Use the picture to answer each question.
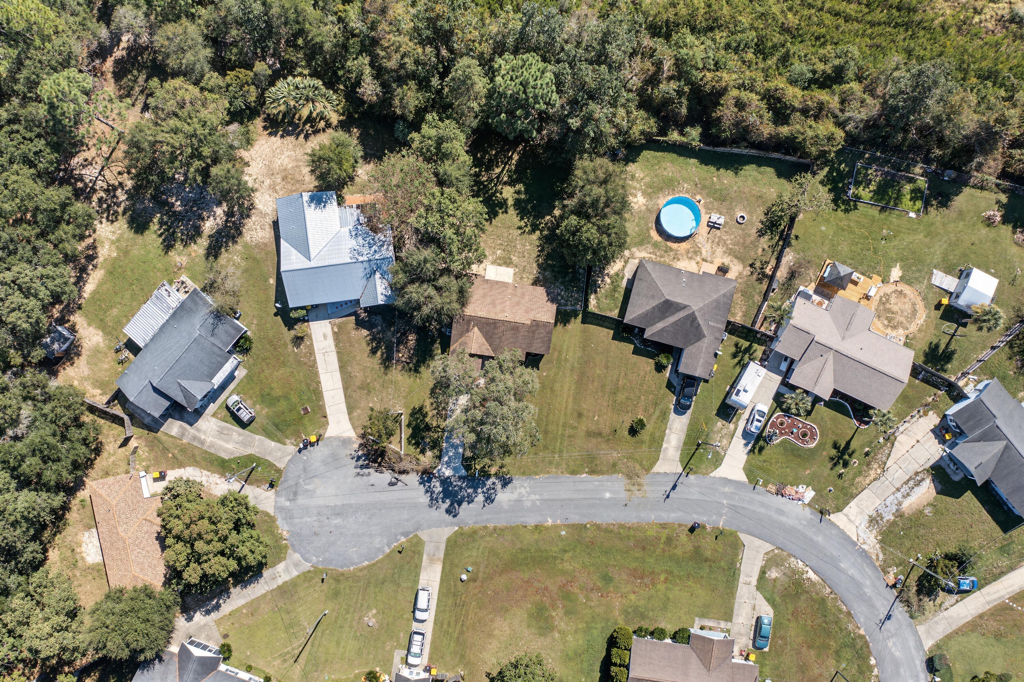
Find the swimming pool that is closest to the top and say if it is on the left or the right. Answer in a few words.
right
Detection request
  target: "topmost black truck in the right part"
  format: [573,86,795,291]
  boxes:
[678,374,699,415]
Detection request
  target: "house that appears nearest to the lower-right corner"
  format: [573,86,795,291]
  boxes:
[942,377,1024,530]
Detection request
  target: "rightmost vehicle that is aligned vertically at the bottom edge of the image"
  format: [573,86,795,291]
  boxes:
[755,616,774,652]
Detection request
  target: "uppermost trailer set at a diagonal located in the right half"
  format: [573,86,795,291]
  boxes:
[723,360,767,414]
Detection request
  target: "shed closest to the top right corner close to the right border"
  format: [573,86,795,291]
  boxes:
[948,267,999,315]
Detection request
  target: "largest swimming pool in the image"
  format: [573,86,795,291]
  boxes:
[657,195,702,241]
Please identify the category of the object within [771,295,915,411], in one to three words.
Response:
house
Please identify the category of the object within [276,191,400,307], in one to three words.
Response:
house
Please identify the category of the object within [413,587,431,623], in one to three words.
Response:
car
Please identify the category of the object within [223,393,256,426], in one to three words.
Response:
car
